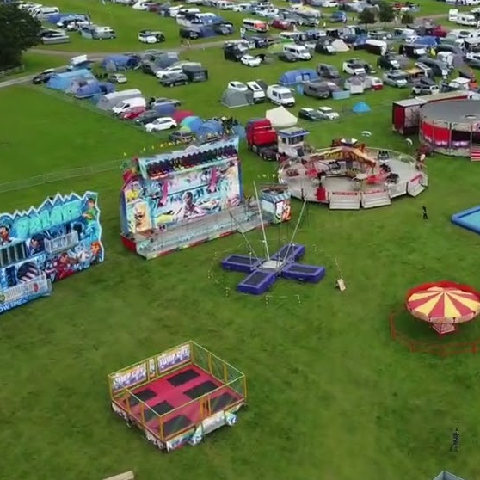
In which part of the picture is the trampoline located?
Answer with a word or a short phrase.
center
